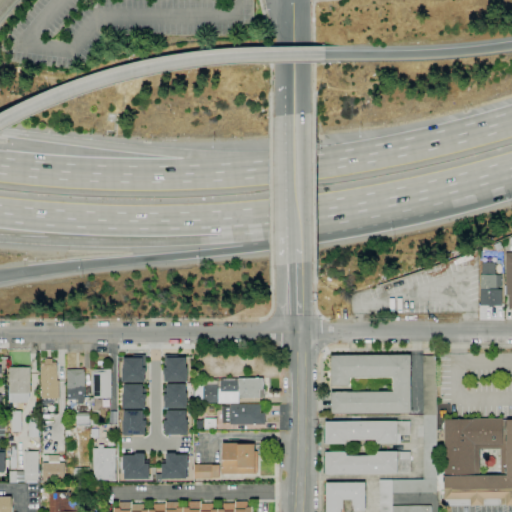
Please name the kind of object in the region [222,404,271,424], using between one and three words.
house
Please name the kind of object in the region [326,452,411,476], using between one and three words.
building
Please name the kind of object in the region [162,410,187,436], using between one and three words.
house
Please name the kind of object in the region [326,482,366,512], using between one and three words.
building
